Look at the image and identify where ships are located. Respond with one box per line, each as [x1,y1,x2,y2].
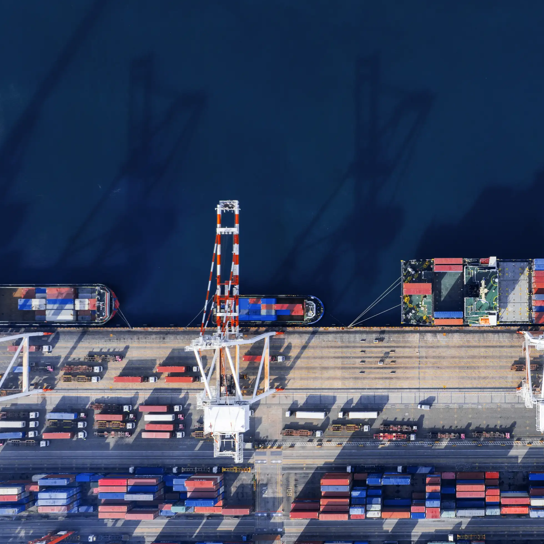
[0,283,121,324]
[402,256,532,325]
[211,294,325,324]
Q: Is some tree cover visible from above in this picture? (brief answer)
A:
No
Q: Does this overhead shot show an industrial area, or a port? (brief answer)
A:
port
